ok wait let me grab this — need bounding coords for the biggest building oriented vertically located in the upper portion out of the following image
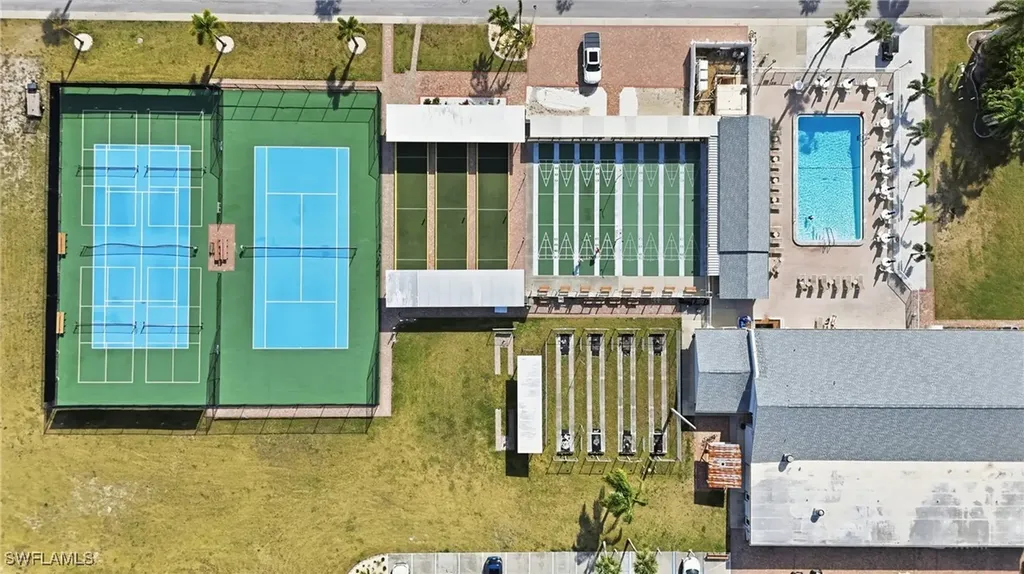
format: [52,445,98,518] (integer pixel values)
[716,115,771,299]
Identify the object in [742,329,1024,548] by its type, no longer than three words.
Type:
building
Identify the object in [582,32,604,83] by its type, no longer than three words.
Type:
truck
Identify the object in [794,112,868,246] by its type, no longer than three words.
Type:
swimming pool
